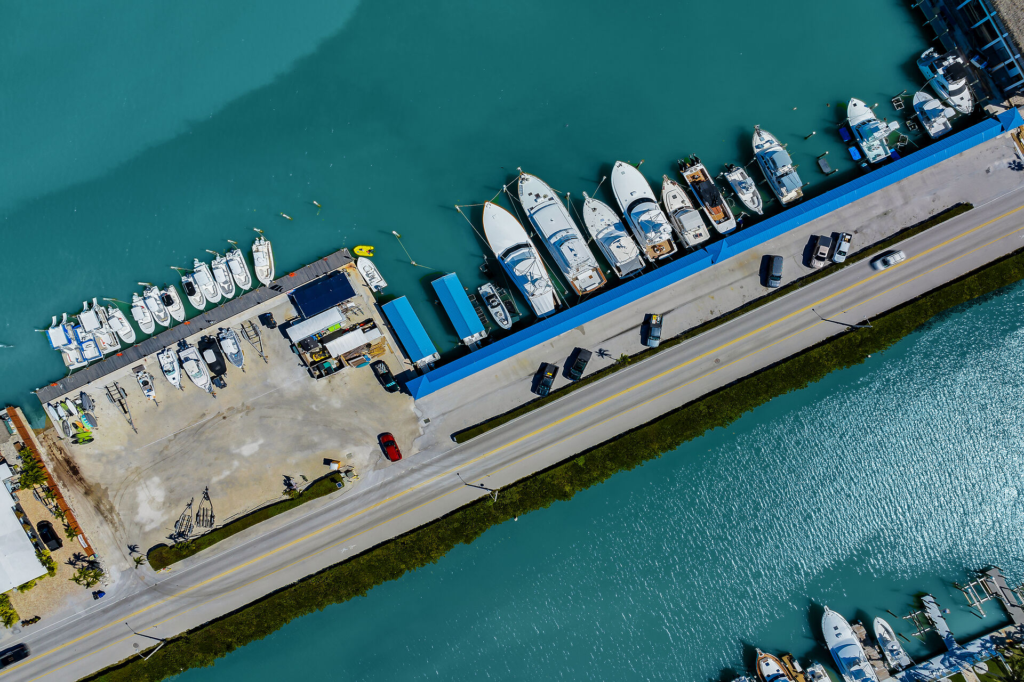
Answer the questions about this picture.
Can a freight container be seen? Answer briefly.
Yes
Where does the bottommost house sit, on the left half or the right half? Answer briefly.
left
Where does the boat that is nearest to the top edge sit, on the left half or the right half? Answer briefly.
right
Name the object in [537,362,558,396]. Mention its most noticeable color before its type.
black truck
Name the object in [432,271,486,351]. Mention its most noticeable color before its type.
blue boat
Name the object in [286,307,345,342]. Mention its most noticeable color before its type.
white shipping container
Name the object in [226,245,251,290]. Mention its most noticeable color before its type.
white boat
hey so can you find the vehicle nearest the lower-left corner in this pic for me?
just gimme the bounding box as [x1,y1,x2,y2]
[0,644,30,668]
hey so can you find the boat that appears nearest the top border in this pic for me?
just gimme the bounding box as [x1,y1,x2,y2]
[914,48,974,114]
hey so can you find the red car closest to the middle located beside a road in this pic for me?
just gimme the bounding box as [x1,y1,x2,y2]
[381,432,403,463]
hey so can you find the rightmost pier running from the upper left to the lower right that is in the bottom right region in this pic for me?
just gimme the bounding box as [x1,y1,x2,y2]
[978,562,1024,622]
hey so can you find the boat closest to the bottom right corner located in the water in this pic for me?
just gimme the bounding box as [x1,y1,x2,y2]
[874,618,913,675]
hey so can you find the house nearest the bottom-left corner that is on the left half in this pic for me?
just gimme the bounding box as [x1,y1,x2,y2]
[0,459,56,594]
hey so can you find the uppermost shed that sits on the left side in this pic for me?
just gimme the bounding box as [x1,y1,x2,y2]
[294,272,357,318]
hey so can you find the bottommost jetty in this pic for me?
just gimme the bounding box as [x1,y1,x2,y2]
[851,624,889,681]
